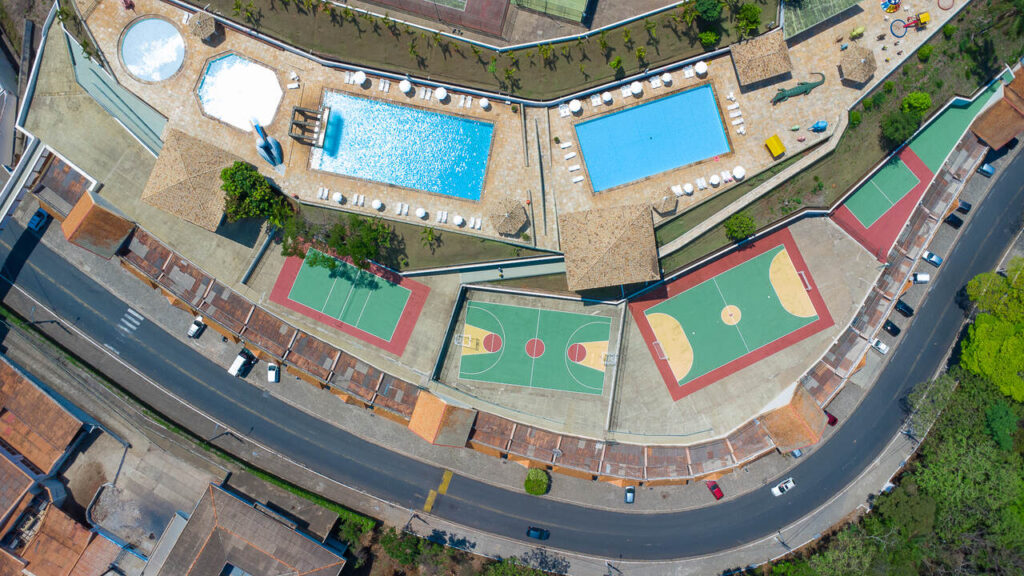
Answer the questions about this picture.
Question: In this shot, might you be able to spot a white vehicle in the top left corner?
No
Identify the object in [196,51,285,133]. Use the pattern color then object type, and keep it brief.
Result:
white swimming pool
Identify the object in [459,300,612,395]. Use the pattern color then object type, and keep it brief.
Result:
green basketball court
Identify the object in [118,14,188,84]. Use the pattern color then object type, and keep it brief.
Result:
white swimming pool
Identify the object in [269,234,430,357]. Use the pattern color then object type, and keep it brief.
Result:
green sports court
